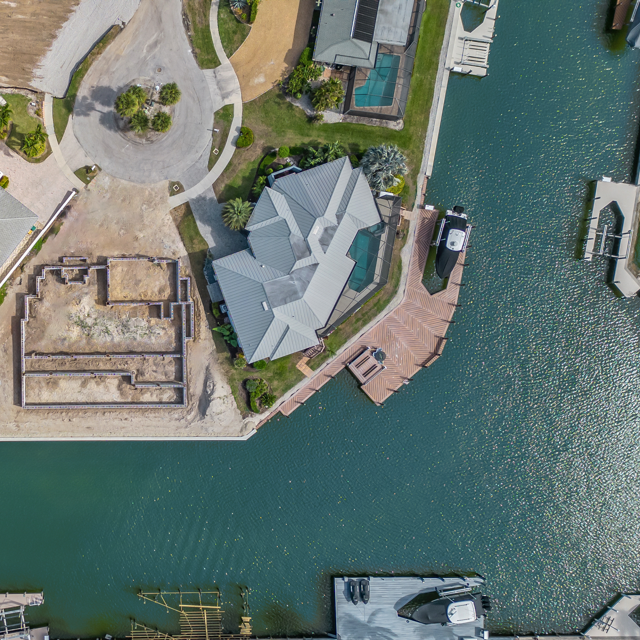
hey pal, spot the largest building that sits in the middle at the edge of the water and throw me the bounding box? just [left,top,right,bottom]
[213,156,383,364]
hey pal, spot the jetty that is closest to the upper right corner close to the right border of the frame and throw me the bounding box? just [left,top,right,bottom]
[604,0,631,31]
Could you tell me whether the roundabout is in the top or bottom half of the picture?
top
